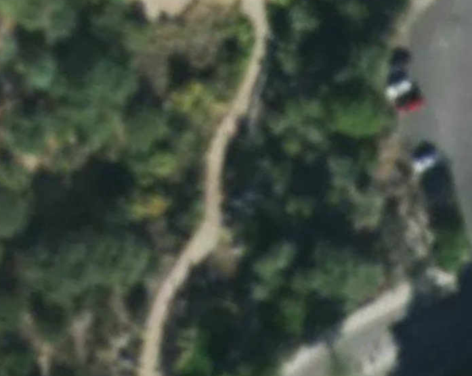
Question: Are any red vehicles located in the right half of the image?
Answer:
Yes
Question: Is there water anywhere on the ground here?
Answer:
No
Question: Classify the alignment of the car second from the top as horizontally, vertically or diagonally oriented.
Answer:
diagonally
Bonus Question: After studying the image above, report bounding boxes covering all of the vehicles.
[388,48,416,70]
[411,151,439,173]
[385,77,414,101]
[395,94,425,116]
